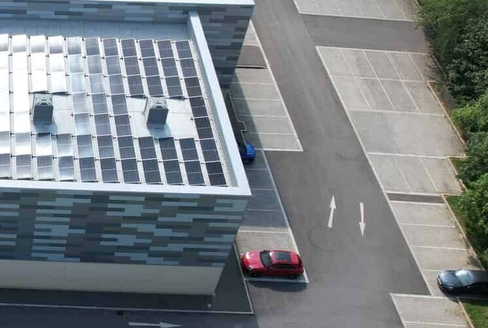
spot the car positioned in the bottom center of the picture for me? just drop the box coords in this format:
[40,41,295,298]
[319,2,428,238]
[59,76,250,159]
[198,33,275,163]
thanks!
[240,250,308,279]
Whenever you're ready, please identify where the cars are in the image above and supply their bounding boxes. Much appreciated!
[238,143,259,163]
[444,267,488,296]
[240,250,308,279]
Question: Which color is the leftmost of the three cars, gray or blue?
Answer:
blue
